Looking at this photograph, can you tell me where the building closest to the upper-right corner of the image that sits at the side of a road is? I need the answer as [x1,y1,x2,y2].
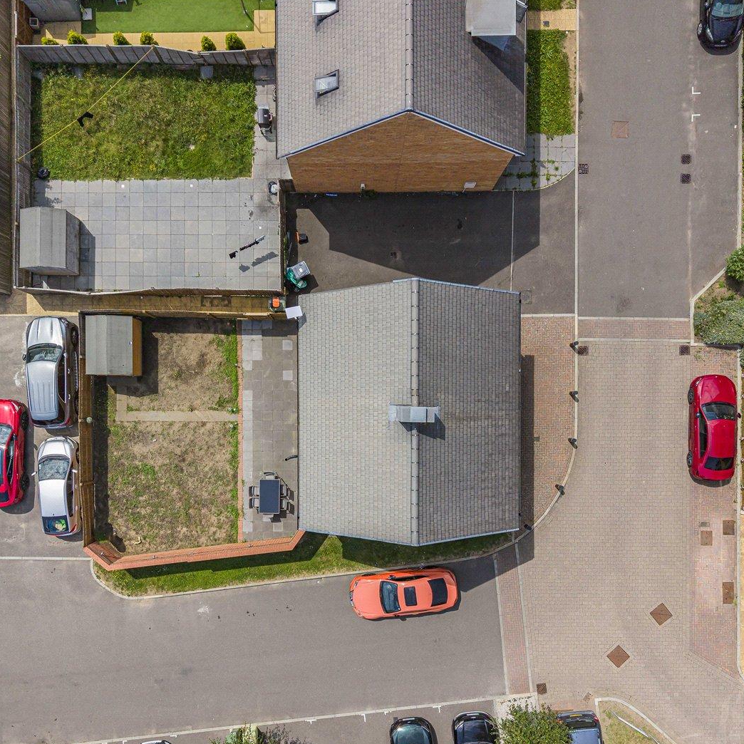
[274,0,528,193]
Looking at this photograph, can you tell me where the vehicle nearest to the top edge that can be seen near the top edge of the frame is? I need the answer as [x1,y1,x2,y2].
[701,0,744,50]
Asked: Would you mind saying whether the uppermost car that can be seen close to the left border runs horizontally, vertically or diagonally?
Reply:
vertically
